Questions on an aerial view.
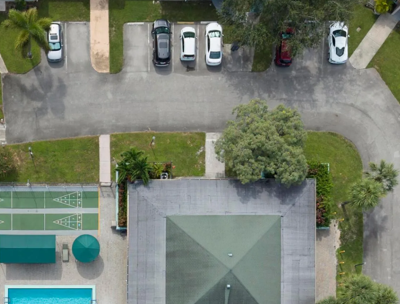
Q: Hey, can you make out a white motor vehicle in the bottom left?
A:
No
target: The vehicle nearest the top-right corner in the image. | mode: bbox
[327,23,349,65]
